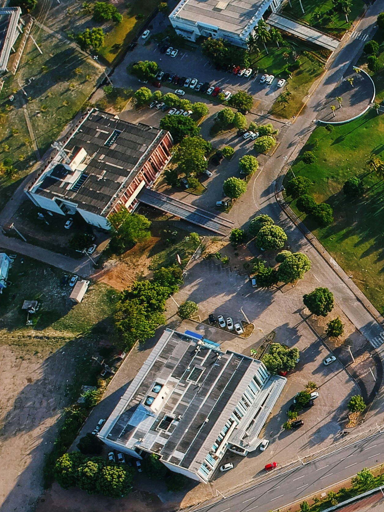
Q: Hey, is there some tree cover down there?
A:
Yes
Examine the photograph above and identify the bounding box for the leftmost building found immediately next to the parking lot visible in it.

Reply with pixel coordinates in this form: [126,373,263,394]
[28,108,174,228]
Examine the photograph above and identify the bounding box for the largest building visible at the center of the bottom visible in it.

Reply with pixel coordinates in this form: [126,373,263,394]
[96,328,271,486]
